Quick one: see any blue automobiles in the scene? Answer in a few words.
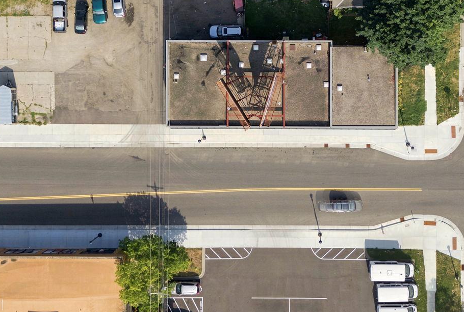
Yes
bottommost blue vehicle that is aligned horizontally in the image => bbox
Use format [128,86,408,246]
[209,23,244,40]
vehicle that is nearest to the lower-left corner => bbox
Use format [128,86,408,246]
[171,280,202,297]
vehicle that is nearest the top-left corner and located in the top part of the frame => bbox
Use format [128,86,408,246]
[51,0,67,32]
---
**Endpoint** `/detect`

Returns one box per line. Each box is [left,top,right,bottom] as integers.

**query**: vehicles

[370,263,414,281]
[72,0,89,35]
[112,0,126,17]
[321,197,358,213]
[171,280,202,297]
[377,284,418,302]
[90,0,107,23]
[51,0,67,32]
[209,23,244,40]
[376,304,417,312]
